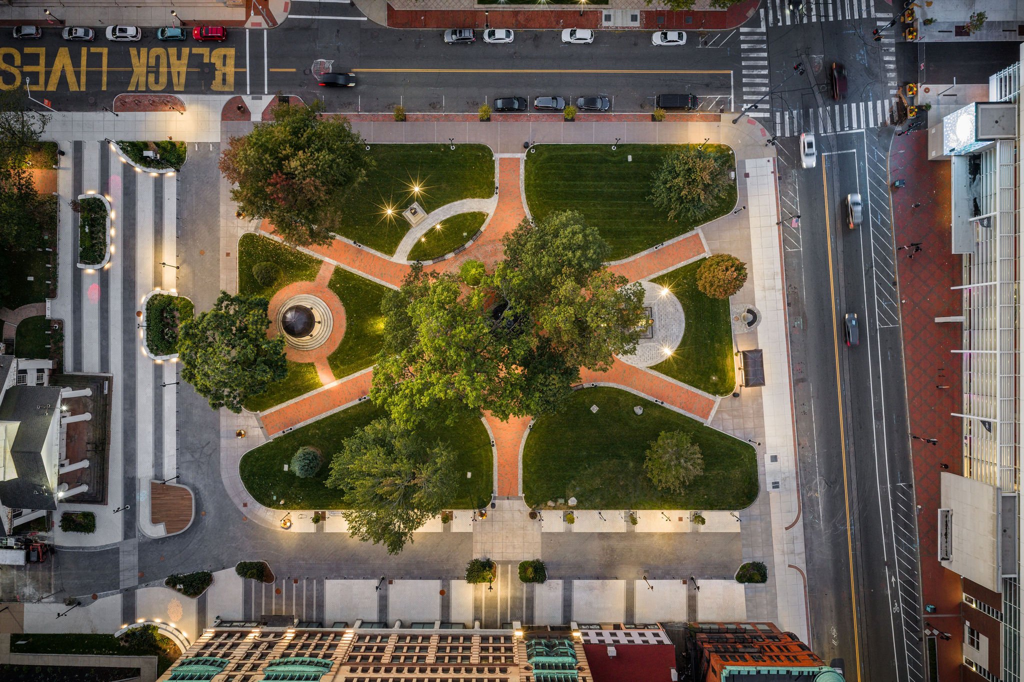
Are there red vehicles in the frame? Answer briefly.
Yes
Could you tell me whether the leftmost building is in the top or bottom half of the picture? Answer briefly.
bottom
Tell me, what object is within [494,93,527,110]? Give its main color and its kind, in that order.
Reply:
black car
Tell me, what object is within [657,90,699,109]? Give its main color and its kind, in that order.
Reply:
black vehicle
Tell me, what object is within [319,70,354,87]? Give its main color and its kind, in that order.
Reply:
black car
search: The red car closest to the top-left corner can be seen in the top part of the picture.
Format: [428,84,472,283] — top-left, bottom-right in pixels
[190,22,226,41]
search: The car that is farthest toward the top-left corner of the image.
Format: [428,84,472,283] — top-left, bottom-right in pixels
[9,22,40,39]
